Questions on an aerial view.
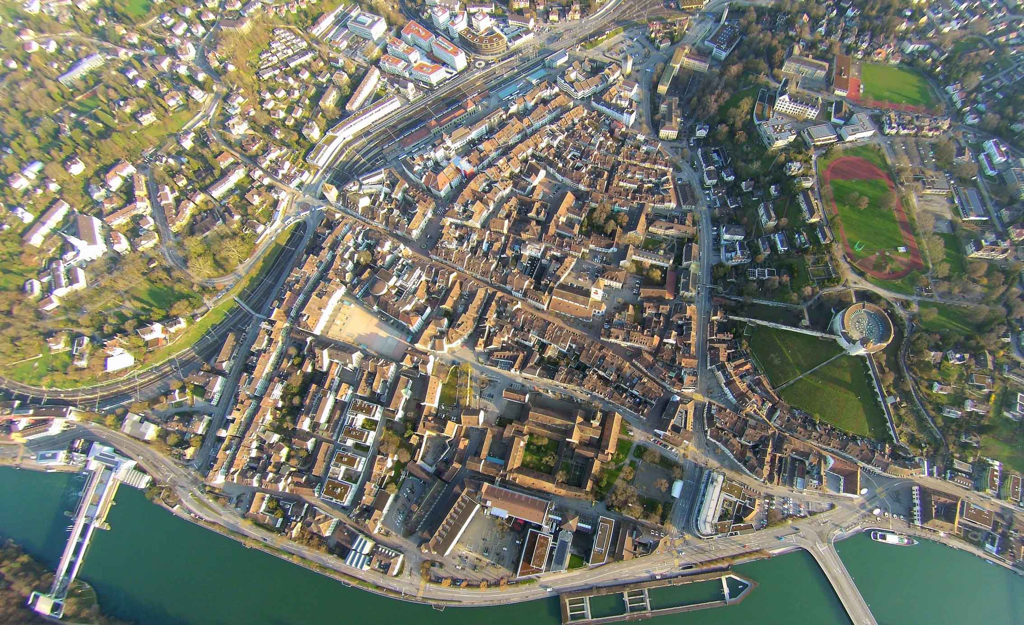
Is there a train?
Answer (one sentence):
Yes, there's a train here.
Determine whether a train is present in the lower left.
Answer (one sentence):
No, no train appears in the lower left.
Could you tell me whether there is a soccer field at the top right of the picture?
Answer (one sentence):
Yes, a soccer field appears at the top right of the picture.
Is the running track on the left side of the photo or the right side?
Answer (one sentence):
The running track is on the right side of the image.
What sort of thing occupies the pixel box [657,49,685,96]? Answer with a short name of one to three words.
house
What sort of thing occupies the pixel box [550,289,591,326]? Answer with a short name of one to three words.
building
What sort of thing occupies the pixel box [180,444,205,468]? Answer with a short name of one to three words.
house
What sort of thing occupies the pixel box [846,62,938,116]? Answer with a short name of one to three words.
soccer field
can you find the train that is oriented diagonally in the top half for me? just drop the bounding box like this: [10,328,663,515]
[383,96,470,149]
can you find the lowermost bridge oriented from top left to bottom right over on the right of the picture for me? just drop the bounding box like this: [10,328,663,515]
[801,537,878,625]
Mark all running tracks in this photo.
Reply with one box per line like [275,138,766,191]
[818,152,928,285]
